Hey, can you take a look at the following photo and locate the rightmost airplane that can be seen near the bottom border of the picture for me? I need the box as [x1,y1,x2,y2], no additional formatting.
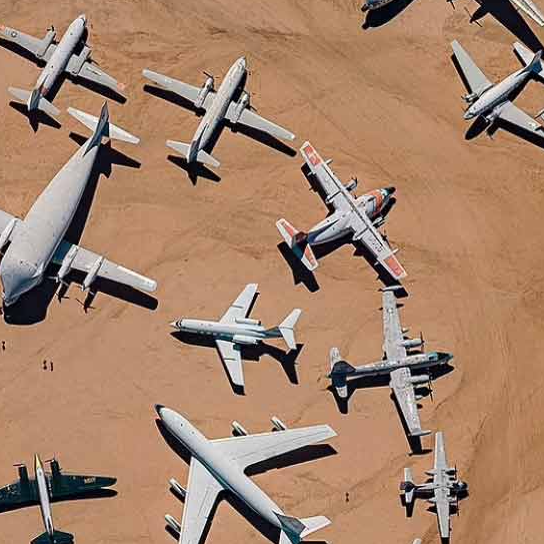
[399,431,465,536]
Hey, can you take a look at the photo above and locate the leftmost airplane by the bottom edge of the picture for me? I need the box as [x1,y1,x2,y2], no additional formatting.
[0,453,118,544]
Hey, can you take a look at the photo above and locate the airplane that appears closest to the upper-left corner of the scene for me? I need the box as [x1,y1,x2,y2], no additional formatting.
[0,17,125,115]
